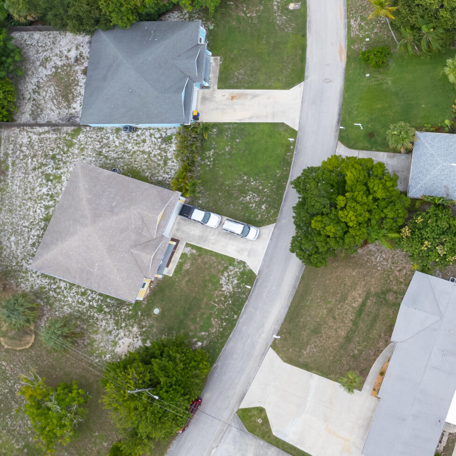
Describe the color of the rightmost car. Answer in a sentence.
In this view, the rightmost car is white.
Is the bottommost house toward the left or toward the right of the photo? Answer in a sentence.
It is on the right.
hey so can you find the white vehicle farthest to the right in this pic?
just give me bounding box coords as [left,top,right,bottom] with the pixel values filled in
[220,217,260,241]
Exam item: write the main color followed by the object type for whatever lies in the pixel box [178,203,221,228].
white truck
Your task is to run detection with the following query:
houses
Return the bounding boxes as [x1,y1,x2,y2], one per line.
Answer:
[408,132,456,202]
[362,272,456,456]
[30,161,187,304]
[79,20,216,127]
